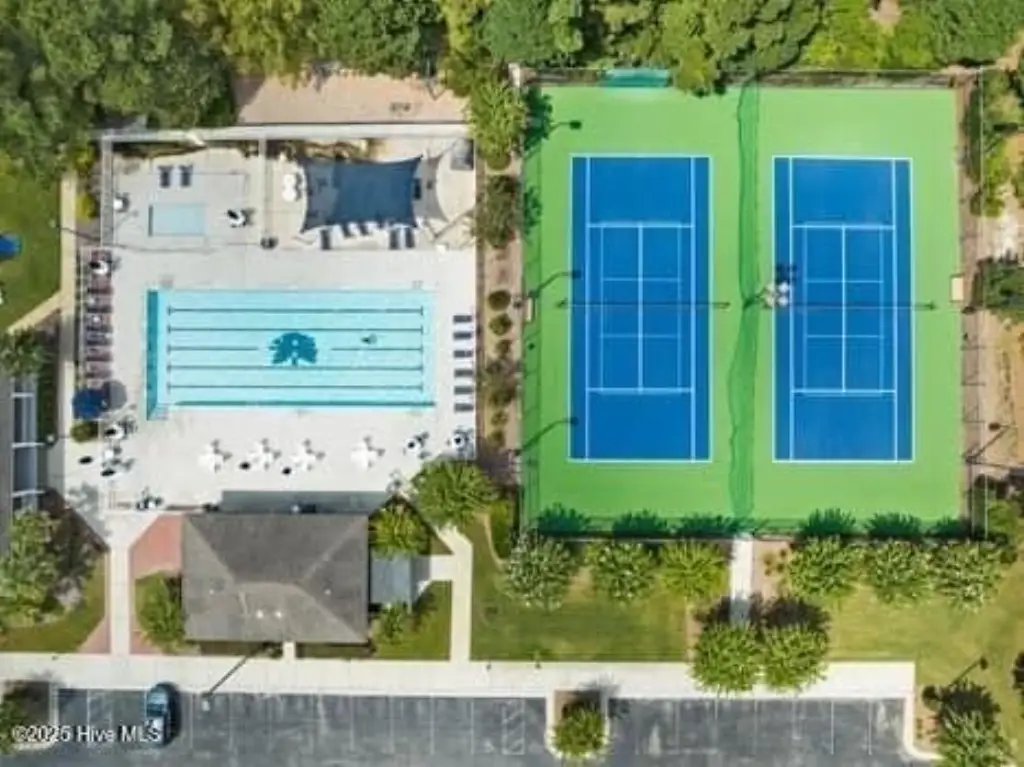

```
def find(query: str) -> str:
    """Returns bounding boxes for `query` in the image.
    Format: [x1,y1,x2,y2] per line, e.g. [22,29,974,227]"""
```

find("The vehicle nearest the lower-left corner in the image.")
[144,684,177,747]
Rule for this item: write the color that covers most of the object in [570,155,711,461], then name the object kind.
blue tennis court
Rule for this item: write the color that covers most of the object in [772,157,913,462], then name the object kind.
blue tennis court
